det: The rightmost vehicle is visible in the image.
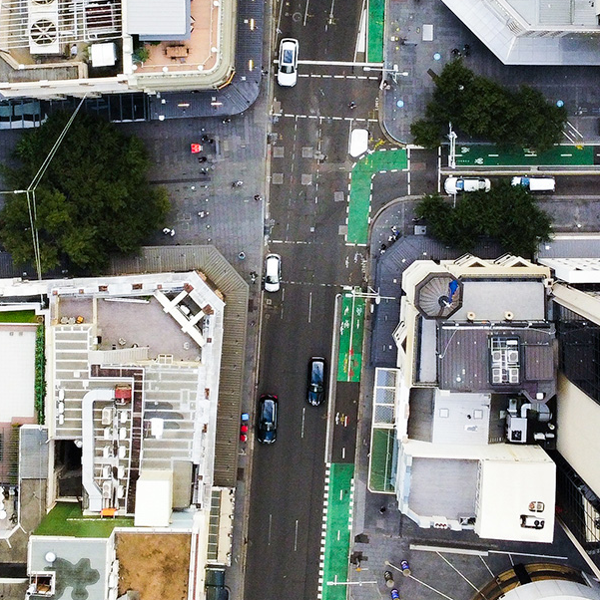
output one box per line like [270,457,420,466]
[511,173,558,195]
